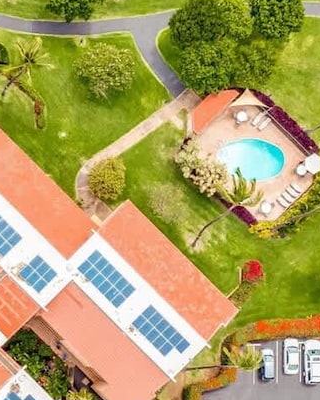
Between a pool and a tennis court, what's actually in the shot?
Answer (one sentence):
It is a pool that can be seen here.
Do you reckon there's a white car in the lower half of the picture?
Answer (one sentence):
Yes, a white car is visible in the lower half of the picture.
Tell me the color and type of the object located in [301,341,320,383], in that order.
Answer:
white car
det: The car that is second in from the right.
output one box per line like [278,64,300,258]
[280,337,300,374]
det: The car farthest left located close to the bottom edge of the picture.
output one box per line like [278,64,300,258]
[257,347,276,380]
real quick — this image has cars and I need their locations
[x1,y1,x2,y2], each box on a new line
[280,337,300,374]
[257,347,276,380]
[301,341,320,383]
